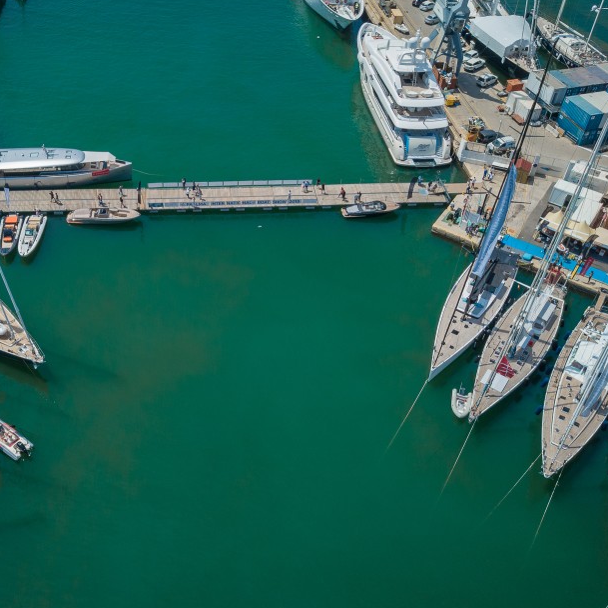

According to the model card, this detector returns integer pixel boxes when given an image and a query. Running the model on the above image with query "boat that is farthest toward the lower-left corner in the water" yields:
[0,417,38,465]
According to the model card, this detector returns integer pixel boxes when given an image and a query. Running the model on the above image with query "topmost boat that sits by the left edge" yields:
[0,149,162,193]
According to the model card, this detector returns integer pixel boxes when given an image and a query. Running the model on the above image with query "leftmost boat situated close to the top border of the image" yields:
[307,0,369,40]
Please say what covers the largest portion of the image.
water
